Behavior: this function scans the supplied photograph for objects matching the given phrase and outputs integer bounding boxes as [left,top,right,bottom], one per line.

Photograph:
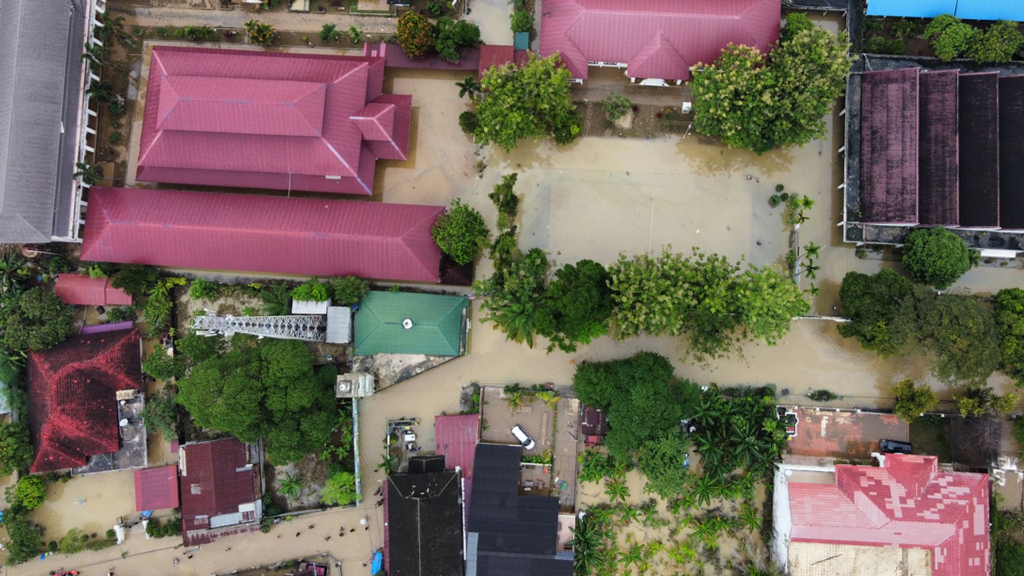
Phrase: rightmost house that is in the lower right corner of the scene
[772,452,990,576]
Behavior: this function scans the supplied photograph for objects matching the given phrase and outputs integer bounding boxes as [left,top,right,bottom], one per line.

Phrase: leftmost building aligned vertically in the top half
[0,0,111,244]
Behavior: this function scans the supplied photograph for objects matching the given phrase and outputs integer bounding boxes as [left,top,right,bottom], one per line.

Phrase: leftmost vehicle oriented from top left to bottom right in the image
[508,422,537,452]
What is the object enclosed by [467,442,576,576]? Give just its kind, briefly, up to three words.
house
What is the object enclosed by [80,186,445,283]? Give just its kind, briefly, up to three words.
building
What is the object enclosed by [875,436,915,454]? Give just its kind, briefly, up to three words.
car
